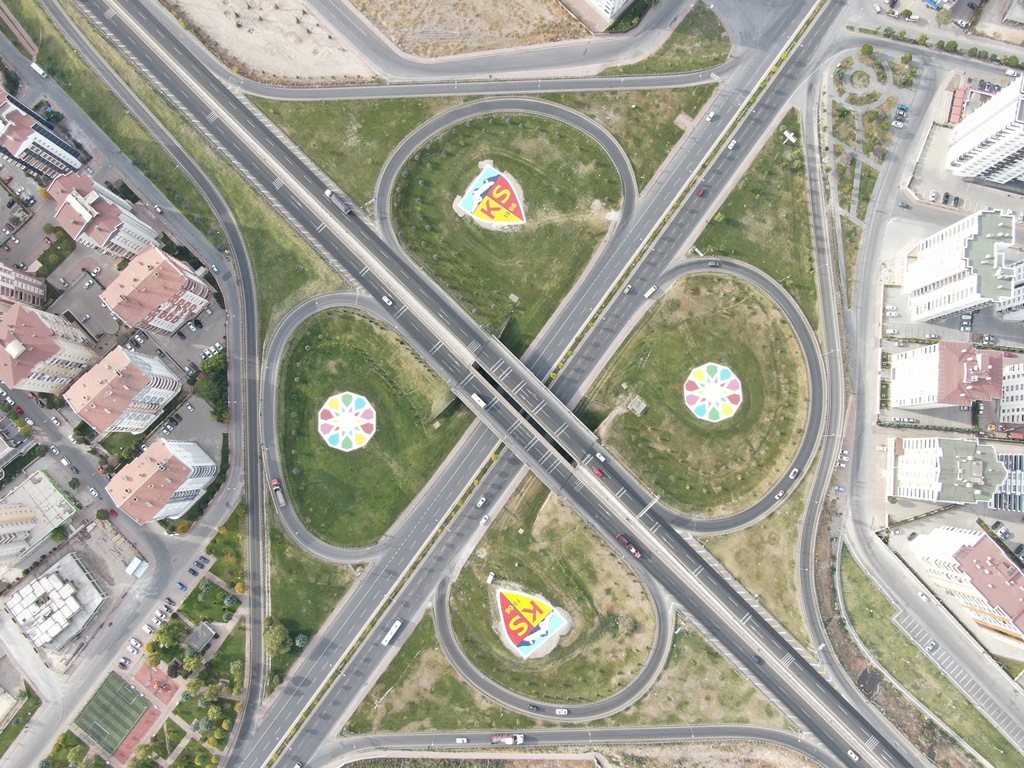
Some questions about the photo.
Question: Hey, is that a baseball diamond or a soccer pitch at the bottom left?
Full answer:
You can see a soccer pitch at the bottom left.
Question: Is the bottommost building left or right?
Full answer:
You can find the bottommost building on the left side of the picture.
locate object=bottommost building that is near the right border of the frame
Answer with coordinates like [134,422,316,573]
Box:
[907,526,1024,645]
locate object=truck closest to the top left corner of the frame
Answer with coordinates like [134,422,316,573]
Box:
[26,58,49,79]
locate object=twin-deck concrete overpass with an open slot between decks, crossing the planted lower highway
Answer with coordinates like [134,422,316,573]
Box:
[428,319,621,511]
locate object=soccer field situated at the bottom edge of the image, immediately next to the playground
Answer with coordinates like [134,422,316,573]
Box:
[68,671,150,761]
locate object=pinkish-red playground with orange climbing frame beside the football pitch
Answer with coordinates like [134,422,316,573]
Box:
[135,665,181,706]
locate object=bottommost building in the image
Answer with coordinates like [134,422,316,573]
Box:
[0,673,28,723]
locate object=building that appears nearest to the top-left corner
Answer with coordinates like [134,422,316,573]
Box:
[0,85,79,179]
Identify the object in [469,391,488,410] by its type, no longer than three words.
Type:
vehicle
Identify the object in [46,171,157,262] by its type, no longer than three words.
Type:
building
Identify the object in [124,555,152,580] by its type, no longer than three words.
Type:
shed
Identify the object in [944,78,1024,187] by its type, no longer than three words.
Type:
building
